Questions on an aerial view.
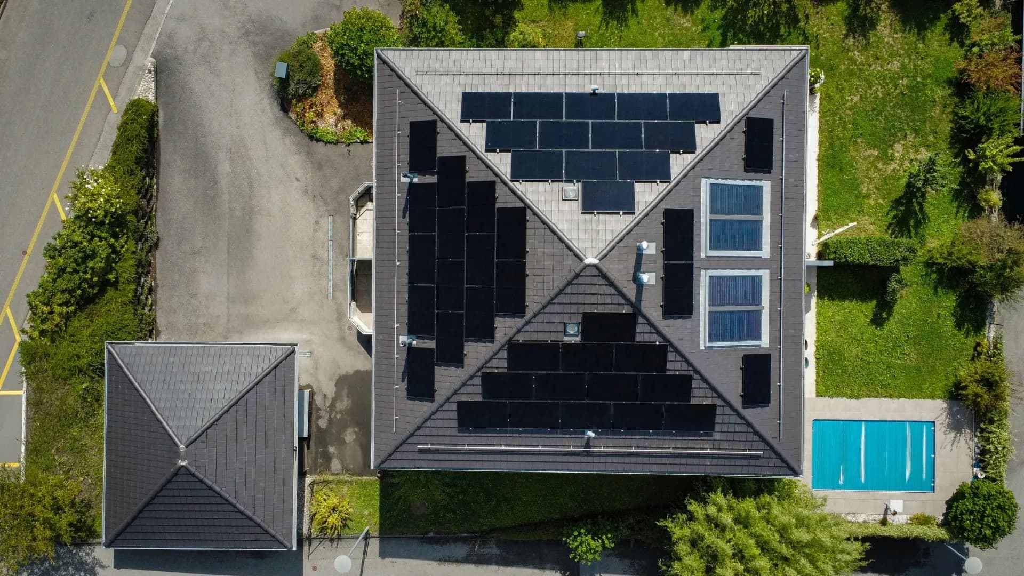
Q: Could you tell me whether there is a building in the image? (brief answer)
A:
Yes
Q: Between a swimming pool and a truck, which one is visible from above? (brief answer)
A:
swimming pool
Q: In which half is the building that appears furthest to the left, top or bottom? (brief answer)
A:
bottom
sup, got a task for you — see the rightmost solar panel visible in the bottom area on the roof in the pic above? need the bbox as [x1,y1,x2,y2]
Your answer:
[743,354,770,406]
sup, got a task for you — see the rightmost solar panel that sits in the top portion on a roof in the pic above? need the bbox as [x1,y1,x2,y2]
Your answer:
[744,117,772,171]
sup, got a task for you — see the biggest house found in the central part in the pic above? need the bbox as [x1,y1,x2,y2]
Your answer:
[348,46,809,478]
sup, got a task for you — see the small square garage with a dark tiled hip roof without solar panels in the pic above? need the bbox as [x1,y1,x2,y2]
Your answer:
[104,342,299,551]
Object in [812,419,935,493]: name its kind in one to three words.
swimming pool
